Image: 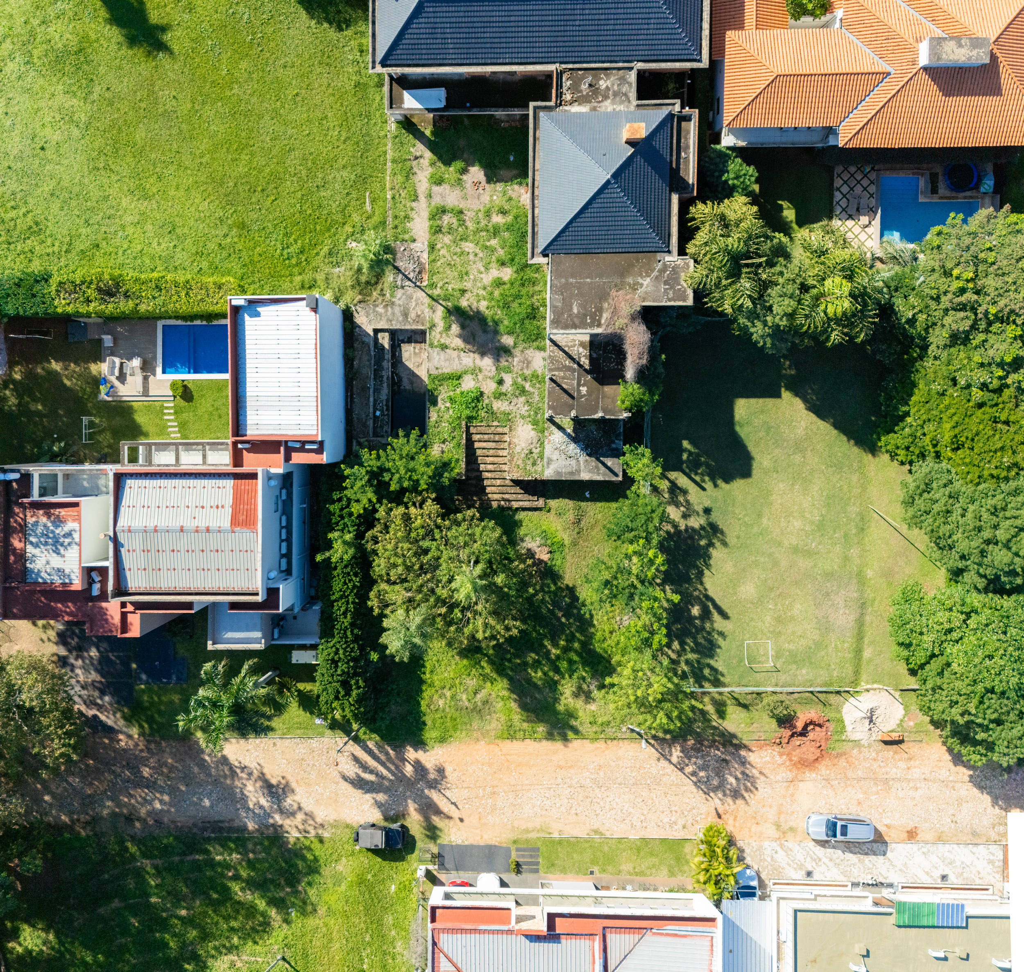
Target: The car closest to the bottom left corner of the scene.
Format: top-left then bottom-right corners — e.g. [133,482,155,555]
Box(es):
[351,820,409,857]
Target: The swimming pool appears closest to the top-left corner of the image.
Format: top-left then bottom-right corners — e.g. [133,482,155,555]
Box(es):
[157,320,229,379]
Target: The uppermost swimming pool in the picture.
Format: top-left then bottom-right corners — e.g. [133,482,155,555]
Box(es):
[875,170,1000,252]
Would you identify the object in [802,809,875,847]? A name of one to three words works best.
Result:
car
